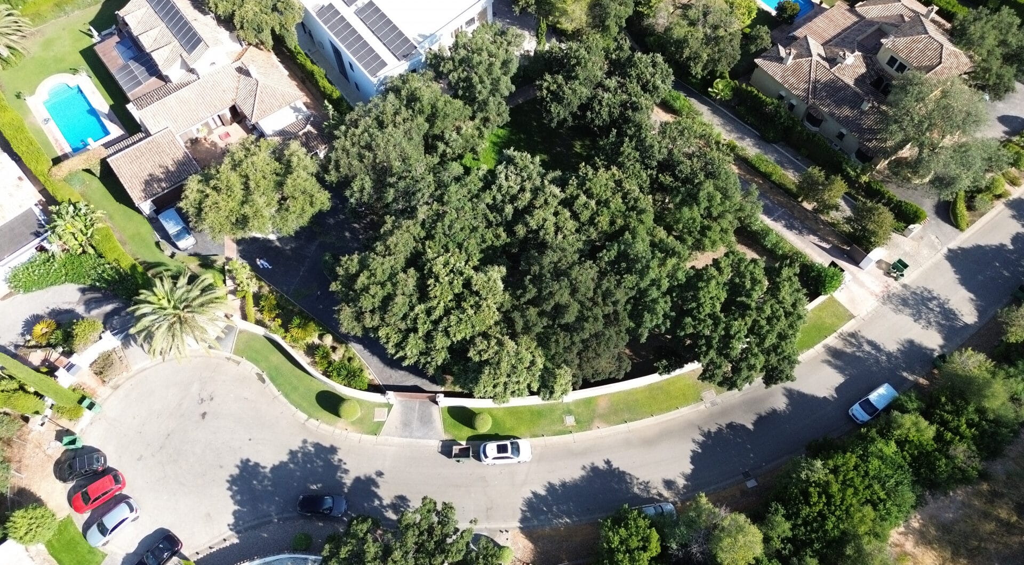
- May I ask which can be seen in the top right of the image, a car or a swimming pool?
swimming pool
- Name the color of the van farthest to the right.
blue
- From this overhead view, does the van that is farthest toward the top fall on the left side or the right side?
left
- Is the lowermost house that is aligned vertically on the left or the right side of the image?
left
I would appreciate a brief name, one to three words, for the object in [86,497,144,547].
car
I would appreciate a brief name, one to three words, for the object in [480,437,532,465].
car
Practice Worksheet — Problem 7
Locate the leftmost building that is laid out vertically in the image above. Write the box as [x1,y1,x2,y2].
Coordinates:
[0,150,59,280]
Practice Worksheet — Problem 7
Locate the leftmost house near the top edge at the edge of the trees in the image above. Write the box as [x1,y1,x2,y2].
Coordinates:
[94,0,332,219]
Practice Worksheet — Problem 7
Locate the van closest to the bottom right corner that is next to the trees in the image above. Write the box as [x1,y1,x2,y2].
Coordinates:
[845,381,904,423]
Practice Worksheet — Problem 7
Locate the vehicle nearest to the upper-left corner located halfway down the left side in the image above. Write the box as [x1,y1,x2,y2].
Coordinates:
[152,205,198,253]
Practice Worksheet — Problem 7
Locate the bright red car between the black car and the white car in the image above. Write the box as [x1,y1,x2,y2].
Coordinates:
[72,469,131,513]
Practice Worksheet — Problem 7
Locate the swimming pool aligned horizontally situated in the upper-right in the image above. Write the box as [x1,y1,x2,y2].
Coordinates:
[759,0,816,21]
